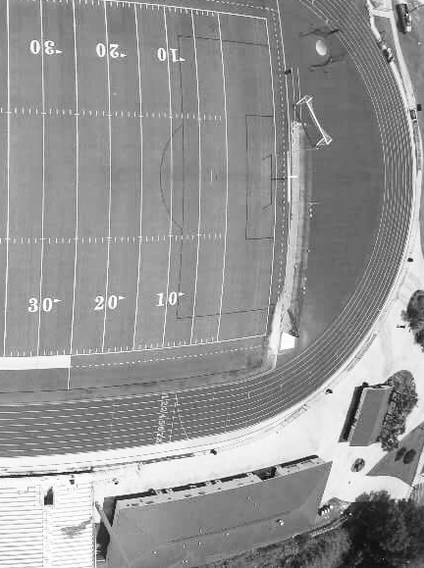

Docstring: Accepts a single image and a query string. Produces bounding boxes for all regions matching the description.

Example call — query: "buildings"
[332,383,393,448]
[102,454,333,568]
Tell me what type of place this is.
sports ground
